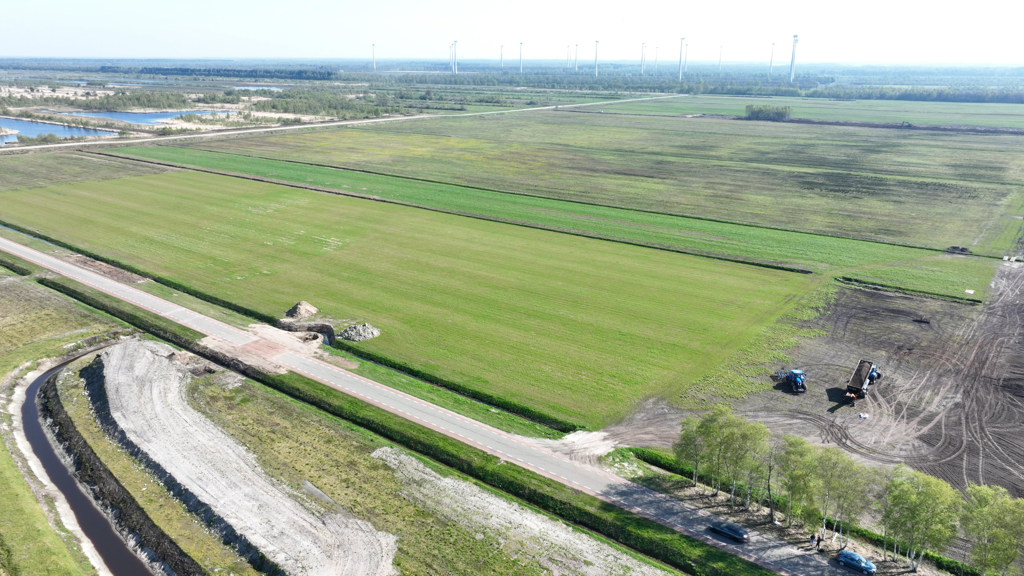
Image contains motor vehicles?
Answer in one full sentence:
Yes, I can see a motor vehicle in this picture.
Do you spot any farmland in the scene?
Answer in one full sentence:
Yes, farmland can be seen from above here.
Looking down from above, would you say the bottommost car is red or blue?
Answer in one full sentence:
The color of the bottommost car is blue.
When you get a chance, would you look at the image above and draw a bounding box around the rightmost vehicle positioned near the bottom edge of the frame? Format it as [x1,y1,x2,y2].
[835,546,877,574]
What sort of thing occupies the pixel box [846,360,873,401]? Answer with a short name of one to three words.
trailer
